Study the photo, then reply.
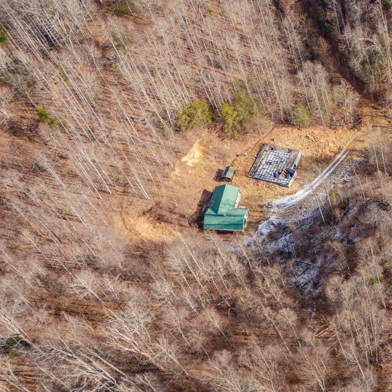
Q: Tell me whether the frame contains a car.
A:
No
